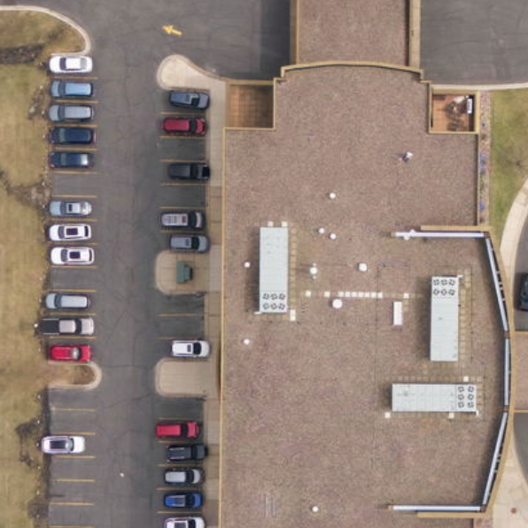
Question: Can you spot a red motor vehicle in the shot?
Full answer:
Yes, there's a red motor vehicle down there.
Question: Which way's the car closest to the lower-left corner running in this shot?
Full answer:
The car closest to the lower-left corner has been laid out horizontally relative to the frame.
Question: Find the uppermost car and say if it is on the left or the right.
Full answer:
You can find the uppermost car on the left side of the picture.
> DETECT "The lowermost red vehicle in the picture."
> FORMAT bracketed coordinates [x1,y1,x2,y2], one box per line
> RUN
[156,421,201,441]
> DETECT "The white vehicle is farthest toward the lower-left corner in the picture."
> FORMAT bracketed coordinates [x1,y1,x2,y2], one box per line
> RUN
[42,434,86,454]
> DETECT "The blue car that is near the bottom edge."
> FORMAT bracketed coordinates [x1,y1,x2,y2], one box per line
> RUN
[164,490,204,511]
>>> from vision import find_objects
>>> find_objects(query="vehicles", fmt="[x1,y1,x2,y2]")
[41,317,94,337]
[170,233,209,253]
[52,246,95,266]
[162,114,206,135]
[49,102,94,123]
[50,343,94,364]
[49,223,92,242]
[42,434,86,454]
[164,516,206,528]
[49,198,93,218]
[50,53,94,74]
[51,78,94,99]
[172,338,210,358]
[166,443,208,464]
[156,421,201,441]
[167,161,210,181]
[518,272,528,311]
[164,490,204,511]
[50,149,94,170]
[169,88,210,109]
[46,291,91,310]
[164,467,204,488]
[51,125,96,145]
[161,209,206,230]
